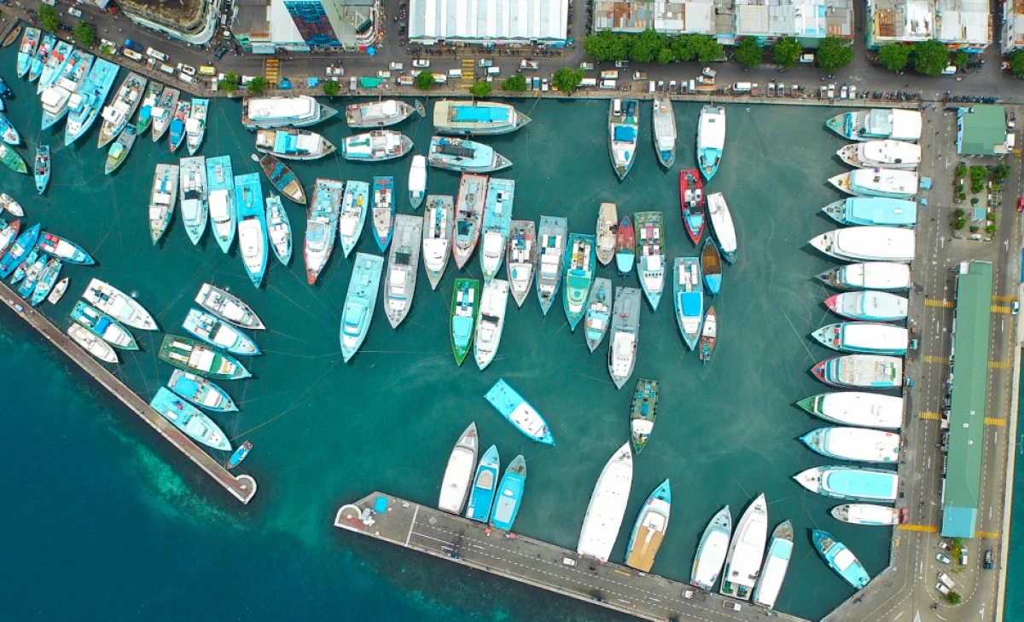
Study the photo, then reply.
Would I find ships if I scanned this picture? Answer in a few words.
Yes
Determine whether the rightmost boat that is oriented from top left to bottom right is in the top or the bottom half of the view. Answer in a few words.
bottom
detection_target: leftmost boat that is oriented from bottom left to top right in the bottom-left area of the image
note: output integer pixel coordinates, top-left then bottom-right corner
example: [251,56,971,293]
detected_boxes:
[226,440,254,470]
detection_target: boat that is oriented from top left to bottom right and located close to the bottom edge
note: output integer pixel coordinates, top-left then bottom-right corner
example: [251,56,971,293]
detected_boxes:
[814,531,871,592]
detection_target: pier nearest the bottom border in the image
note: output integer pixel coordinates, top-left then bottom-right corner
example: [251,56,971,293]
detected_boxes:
[332,491,809,622]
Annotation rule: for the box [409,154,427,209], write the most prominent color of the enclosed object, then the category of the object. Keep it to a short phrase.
white boat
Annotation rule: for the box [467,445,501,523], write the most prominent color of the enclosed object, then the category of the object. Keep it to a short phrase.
blue ship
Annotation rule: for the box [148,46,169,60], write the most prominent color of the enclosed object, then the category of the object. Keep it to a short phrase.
white vehicle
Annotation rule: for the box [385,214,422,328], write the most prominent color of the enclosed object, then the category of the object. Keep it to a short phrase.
white vessel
